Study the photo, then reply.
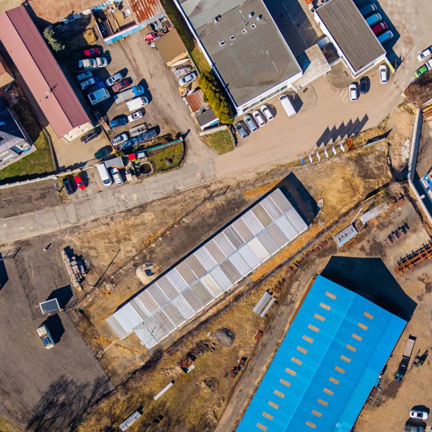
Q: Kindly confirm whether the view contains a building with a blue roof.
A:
Yes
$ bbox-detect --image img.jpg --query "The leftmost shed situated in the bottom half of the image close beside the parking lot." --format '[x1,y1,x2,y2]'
[106,187,309,350]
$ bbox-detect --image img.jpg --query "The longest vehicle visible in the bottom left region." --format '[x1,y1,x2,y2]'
[38,324,56,348]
